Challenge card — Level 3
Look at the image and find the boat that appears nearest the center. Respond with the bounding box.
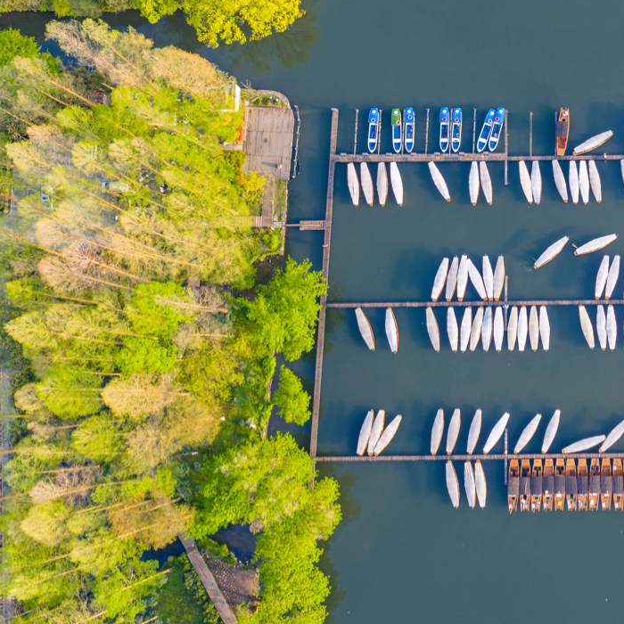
[357,300,377,350]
